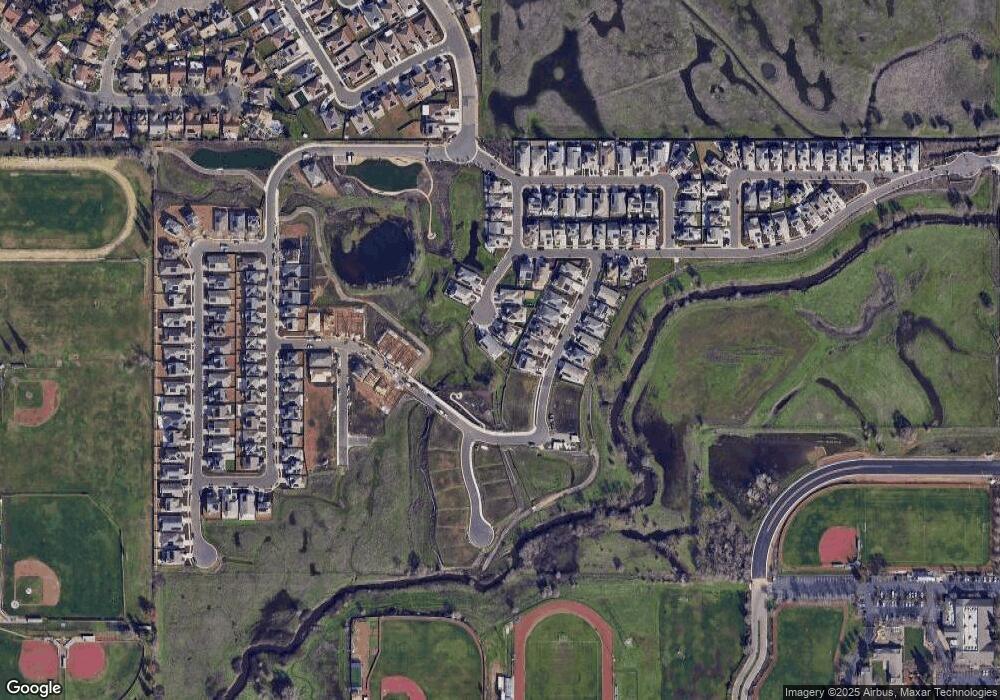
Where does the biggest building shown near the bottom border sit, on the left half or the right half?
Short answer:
right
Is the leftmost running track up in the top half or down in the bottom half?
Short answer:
top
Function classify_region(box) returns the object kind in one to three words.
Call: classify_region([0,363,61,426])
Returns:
baseball field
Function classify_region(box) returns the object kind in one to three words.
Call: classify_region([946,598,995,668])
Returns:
building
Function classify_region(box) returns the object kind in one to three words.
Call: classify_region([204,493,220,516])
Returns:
house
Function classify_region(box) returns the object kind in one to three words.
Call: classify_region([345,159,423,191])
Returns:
pond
